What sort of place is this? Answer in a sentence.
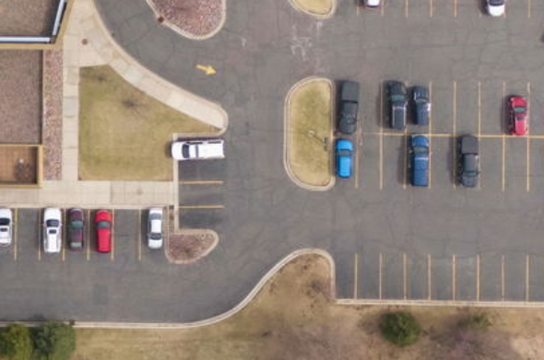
The picture captures a parking lot.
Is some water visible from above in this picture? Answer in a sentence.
No, there's no water in this view.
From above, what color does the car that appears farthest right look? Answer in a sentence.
In this view, the car that appears farthest right is red.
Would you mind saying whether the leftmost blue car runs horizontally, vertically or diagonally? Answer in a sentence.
The leftmost blue car is laid out vertically.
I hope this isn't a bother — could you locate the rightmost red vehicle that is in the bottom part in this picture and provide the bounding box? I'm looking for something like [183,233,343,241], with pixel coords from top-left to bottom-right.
[94,208,114,253]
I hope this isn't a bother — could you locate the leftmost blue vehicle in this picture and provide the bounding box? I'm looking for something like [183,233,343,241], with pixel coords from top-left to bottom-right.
[335,138,355,178]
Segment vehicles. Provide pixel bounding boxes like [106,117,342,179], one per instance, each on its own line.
[408,134,431,188]
[410,84,431,125]
[386,80,409,130]
[42,207,63,254]
[456,134,480,188]
[335,138,355,178]
[361,0,380,8]
[483,0,506,16]
[506,93,528,136]
[171,138,226,161]
[144,207,166,250]
[336,78,360,134]
[0,207,14,245]
[94,208,114,253]
[66,207,87,251]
